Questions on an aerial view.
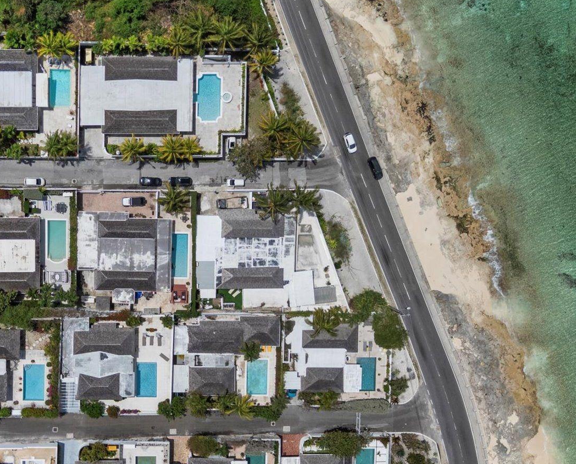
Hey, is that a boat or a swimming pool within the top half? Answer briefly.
swimming pool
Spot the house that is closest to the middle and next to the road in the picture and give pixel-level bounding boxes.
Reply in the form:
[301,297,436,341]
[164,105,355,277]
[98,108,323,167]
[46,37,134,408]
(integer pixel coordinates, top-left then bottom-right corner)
[195,209,315,309]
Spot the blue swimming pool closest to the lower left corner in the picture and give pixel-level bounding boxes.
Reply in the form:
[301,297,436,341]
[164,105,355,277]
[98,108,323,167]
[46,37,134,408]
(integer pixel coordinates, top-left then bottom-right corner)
[22,363,46,402]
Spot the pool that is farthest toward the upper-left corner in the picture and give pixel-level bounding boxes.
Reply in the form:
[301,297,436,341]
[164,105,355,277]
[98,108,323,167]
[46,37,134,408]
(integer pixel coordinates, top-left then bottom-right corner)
[47,67,72,108]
